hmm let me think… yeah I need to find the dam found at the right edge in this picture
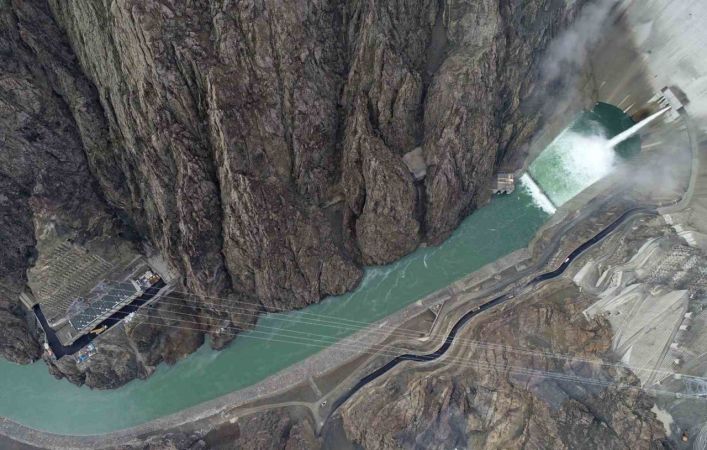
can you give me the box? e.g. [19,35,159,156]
[598,0,707,267]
